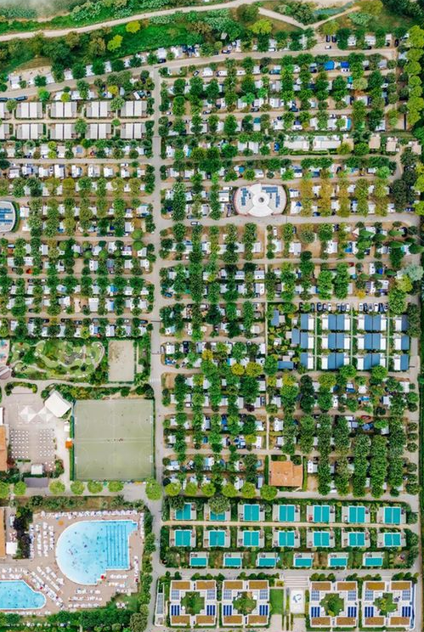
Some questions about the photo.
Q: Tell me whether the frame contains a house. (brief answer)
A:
Yes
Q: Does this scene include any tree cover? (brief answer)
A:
Yes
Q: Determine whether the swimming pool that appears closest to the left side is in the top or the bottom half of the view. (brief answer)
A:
bottom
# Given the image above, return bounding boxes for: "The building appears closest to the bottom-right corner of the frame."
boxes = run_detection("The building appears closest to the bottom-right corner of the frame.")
[360,581,411,627]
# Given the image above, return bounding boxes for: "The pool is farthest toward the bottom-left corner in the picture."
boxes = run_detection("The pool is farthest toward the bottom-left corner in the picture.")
[0,579,47,610]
